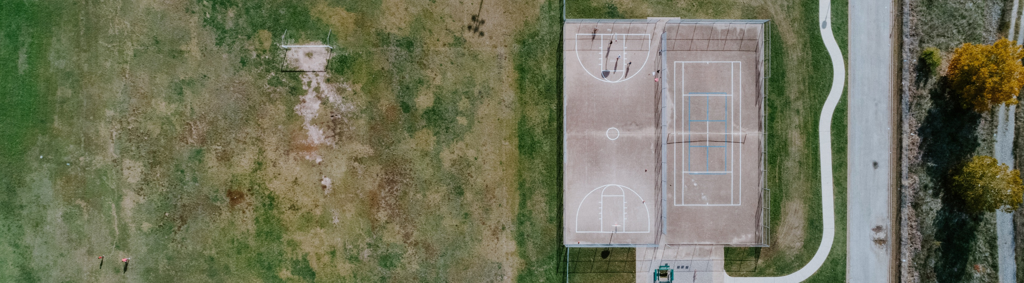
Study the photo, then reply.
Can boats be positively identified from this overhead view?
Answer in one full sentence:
No, the frame has no boat in it.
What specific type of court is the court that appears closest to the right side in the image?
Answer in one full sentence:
From above, the court that appears closest to the right side can be identified as a tennis court.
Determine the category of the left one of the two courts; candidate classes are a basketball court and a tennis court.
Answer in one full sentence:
Specifically, the left one of the two courts is a basketball court.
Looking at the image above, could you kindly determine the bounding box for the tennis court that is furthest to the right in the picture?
[661,23,763,245]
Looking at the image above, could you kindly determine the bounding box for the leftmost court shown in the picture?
[563,23,661,245]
